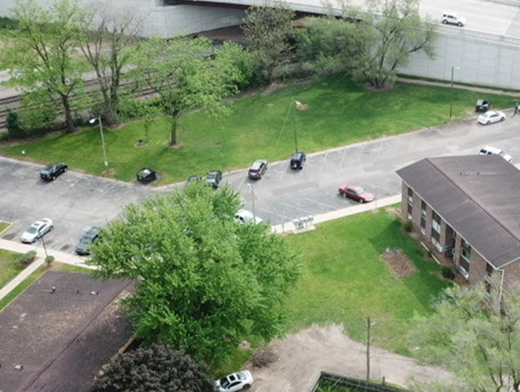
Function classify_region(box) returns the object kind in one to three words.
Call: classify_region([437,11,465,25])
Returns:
vehicle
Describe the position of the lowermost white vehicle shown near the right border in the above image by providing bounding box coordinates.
[479,139,515,160]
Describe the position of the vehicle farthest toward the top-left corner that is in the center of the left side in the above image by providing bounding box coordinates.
[35,157,69,178]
